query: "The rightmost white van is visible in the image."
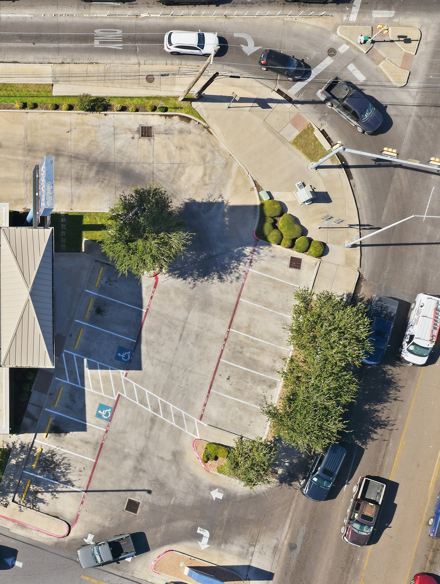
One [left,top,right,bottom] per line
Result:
[401,292,440,364]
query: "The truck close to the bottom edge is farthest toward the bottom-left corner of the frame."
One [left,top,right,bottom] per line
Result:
[77,532,139,569]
